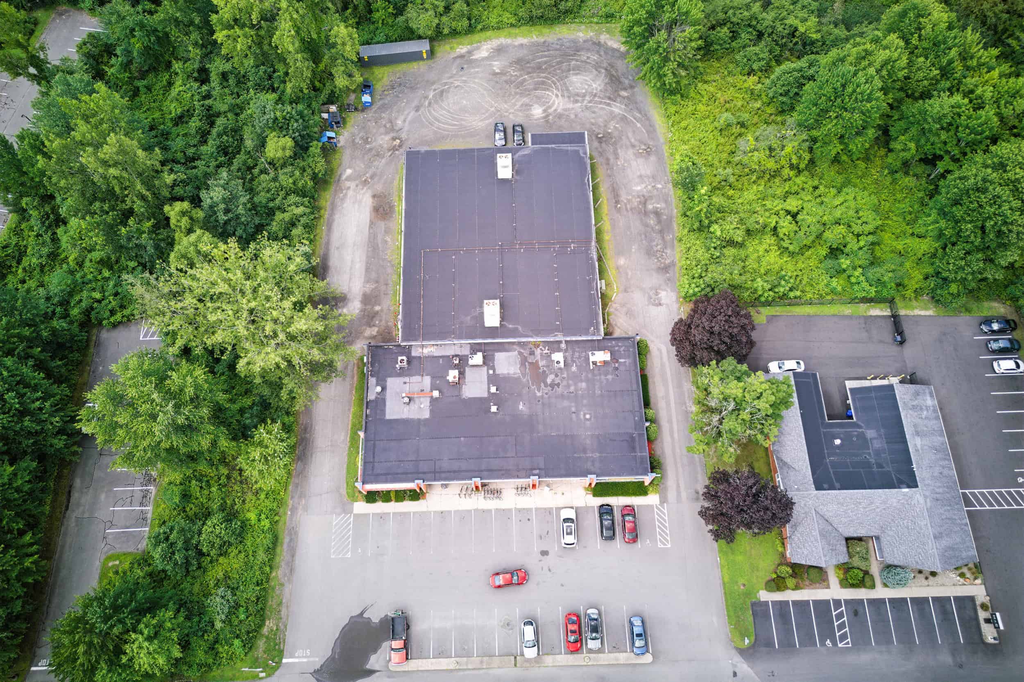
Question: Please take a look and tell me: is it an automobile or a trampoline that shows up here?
automobile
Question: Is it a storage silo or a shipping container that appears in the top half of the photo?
shipping container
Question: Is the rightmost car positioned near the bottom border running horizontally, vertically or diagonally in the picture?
vertically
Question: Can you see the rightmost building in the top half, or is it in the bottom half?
bottom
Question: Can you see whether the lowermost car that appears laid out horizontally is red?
Yes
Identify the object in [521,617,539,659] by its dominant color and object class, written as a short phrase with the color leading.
white car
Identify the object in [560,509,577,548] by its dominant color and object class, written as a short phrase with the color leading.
white car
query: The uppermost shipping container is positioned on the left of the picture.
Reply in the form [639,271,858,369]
[359,38,433,67]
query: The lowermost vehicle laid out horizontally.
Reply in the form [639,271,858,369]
[489,569,528,589]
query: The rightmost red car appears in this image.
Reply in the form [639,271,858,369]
[621,506,638,544]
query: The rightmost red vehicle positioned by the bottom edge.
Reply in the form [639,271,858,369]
[564,612,583,654]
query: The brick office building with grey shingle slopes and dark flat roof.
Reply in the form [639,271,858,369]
[769,370,979,573]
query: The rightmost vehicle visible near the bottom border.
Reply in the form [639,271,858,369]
[629,615,649,658]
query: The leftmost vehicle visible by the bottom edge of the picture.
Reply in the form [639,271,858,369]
[388,611,408,665]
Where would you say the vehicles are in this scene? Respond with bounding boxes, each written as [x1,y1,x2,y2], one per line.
[768,358,804,373]
[493,119,507,147]
[992,358,1024,374]
[489,569,528,589]
[980,317,1018,333]
[598,504,615,541]
[388,611,408,665]
[621,506,638,544]
[521,617,539,659]
[629,615,649,658]
[985,337,1021,353]
[564,612,583,654]
[560,509,577,548]
[584,608,604,651]
[512,120,525,146]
